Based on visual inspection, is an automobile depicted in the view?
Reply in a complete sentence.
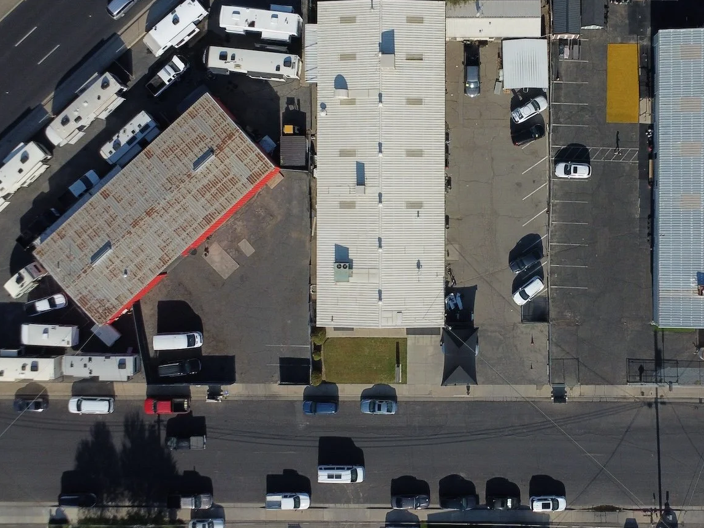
Yes, the picture does show an automobile.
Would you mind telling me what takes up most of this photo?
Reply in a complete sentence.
For the most part, this view shows paved ground.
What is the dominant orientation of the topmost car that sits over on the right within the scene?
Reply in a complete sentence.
The topmost car that sits over on the right runs from top to bottom in the image.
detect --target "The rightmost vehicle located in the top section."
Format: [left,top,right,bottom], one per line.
[554,162,591,180]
